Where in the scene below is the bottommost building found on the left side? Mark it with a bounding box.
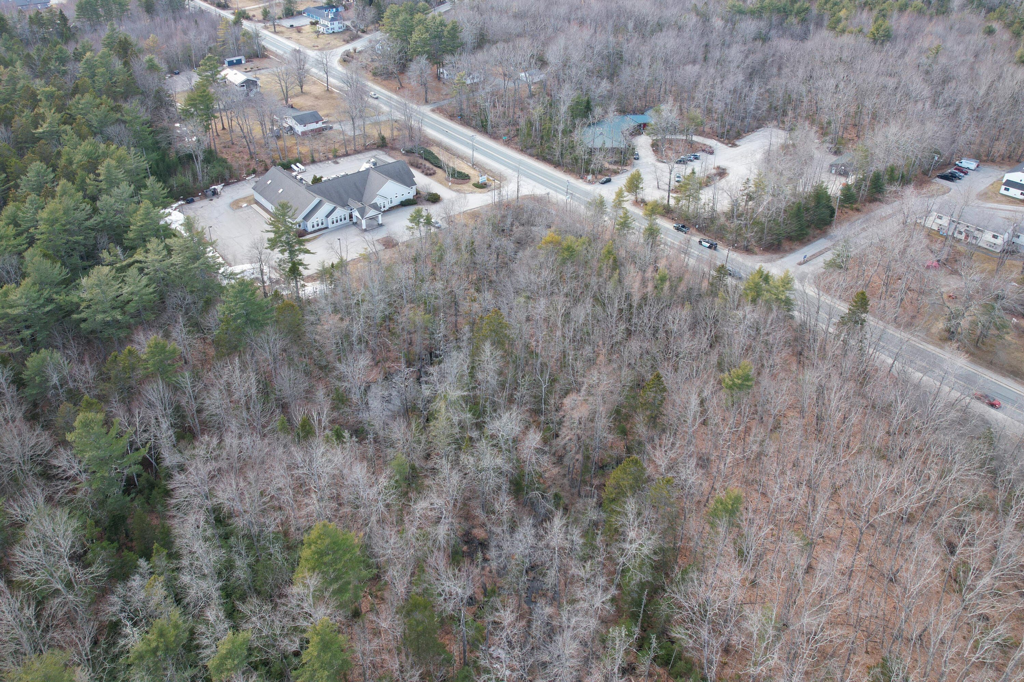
[250,154,420,233]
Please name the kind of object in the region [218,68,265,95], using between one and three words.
house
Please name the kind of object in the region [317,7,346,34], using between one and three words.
house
